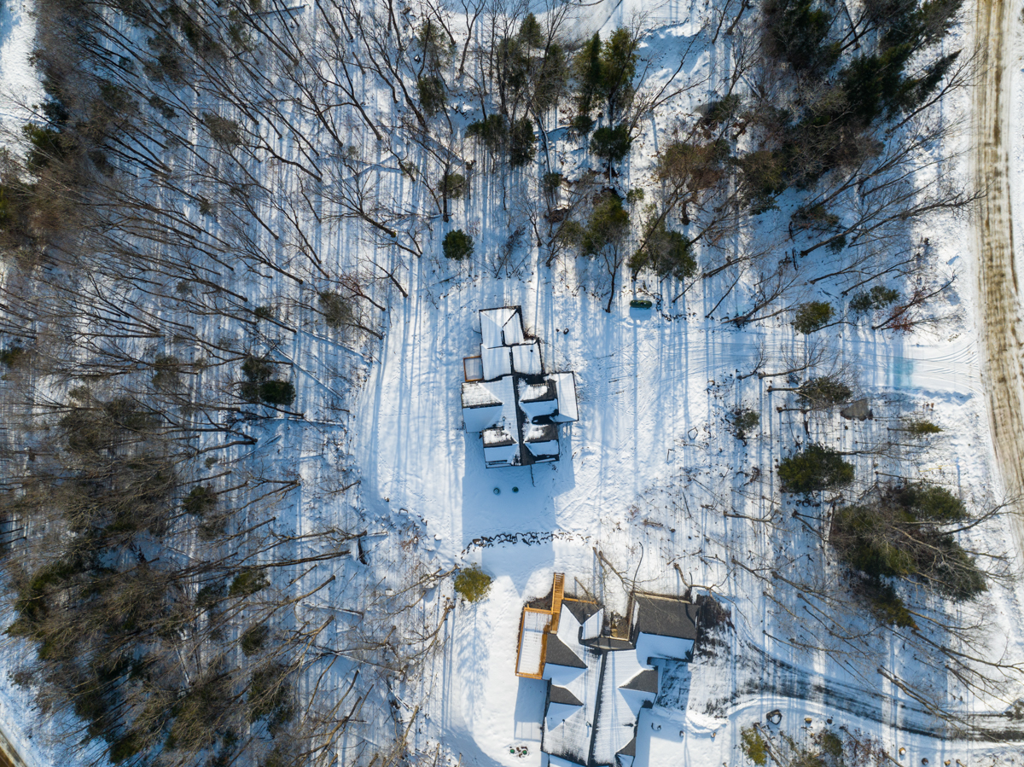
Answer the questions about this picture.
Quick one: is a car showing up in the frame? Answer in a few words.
No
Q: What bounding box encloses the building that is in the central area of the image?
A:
[462,306,578,469]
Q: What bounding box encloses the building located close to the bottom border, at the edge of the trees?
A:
[514,573,702,767]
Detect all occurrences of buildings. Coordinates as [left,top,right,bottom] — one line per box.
[514,573,702,767]
[462,306,578,469]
